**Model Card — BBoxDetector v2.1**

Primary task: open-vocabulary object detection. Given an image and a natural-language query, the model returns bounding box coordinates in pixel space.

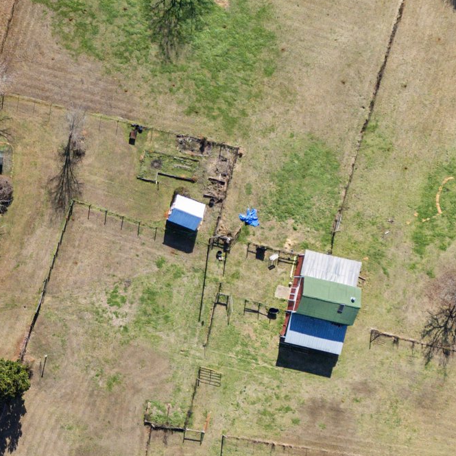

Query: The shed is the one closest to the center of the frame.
[167,194,211,232]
